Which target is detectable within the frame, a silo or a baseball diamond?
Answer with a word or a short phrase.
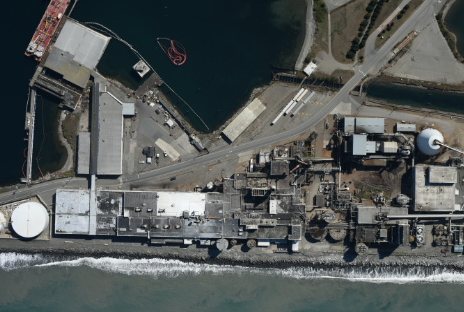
silo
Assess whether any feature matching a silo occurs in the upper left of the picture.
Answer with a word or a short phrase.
No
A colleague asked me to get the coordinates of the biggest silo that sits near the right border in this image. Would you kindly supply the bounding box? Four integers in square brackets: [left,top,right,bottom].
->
[415,126,445,156]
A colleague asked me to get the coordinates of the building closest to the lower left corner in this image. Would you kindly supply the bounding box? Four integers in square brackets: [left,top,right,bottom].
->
[54,213,90,234]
